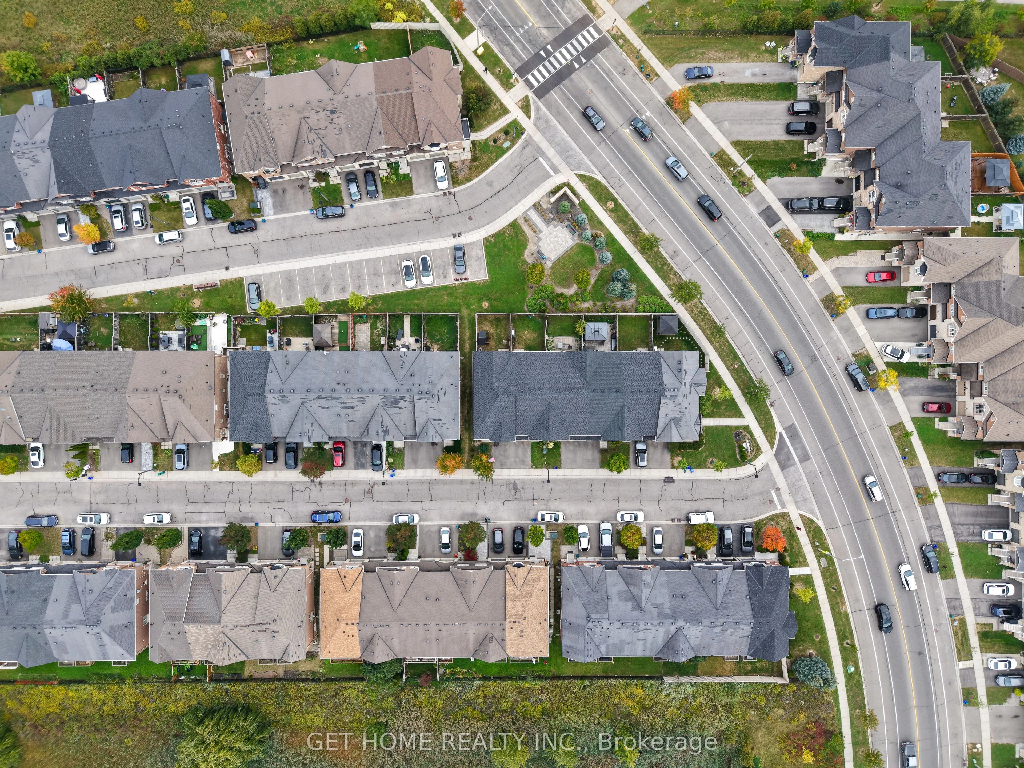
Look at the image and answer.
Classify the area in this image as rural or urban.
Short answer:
urban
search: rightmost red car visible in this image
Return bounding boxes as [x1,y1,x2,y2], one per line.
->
[921,401,951,414]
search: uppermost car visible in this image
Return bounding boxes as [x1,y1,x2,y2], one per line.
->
[685,65,714,80]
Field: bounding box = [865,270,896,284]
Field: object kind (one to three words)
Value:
car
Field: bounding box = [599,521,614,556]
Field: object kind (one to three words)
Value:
vehicle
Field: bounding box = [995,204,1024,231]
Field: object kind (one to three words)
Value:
gazebo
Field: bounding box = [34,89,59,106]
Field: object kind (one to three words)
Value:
gazebo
